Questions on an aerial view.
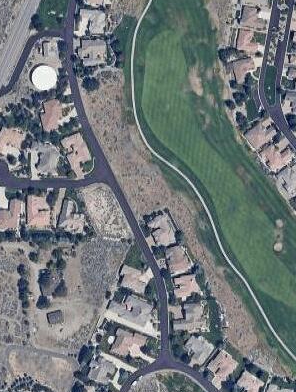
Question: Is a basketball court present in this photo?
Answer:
No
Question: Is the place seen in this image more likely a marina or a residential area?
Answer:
residential area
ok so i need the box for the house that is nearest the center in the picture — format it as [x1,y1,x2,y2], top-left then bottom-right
[150,213,178,245]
